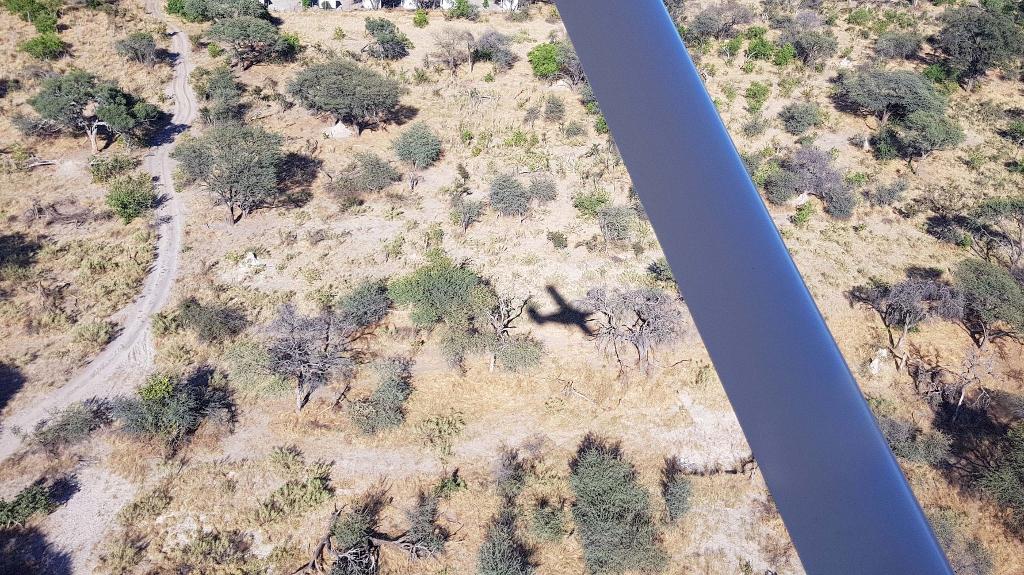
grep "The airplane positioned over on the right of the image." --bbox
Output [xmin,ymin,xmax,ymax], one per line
[555,0,951,575]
